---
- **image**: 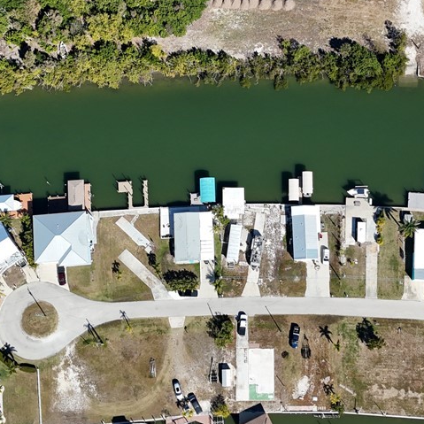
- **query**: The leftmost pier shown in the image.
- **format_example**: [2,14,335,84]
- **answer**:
[9,192,35,217]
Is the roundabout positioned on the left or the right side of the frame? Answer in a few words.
left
